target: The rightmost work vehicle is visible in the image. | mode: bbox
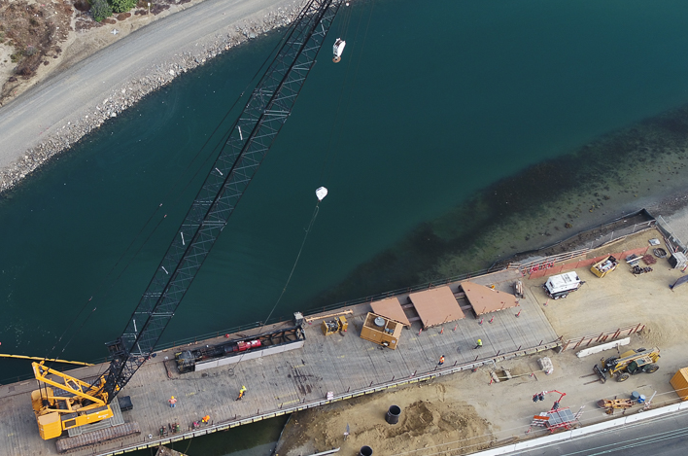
[584,345,664,384]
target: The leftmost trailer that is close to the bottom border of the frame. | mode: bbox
[529,389,579,434]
